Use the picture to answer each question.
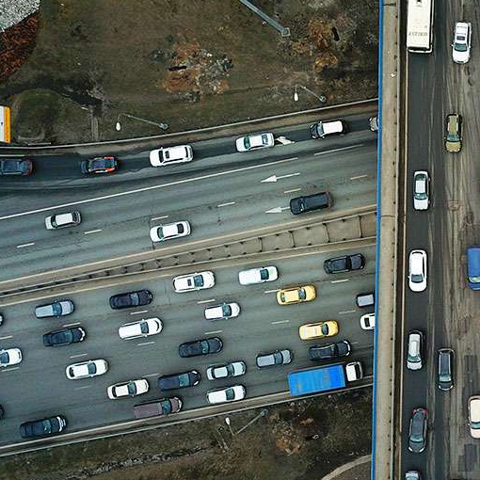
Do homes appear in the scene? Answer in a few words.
No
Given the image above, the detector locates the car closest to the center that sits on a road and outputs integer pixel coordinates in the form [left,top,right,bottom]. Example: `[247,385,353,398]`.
[239,265,279,286]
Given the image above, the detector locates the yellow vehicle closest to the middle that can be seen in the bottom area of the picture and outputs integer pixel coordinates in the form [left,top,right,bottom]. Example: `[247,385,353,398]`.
[276,285,318,306]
